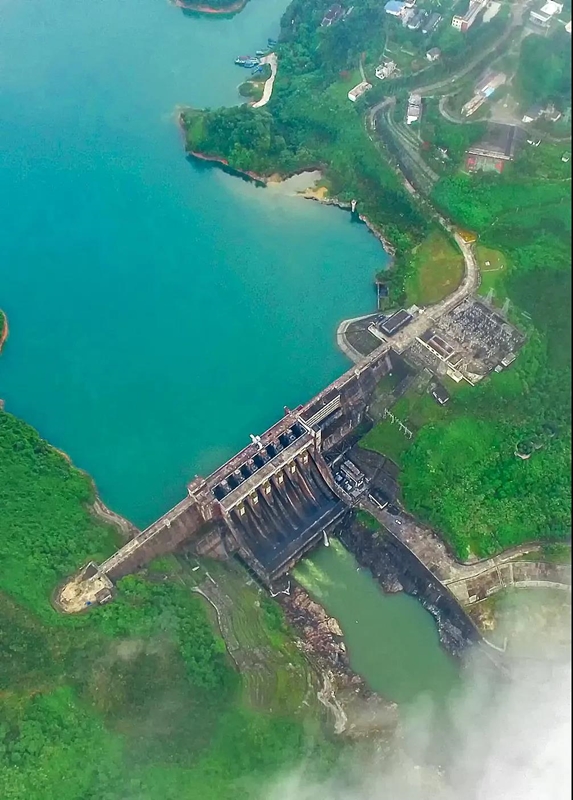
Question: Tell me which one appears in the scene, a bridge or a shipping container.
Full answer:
I can see a bridge in this picture.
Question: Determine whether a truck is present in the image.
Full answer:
No, the scene contains no truck.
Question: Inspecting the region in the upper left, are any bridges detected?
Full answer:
No, there's no bridge to be seen in the upper left.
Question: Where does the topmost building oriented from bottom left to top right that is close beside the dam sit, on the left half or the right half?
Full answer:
The topmost building oriented from bottom left to top right that is close beside the dam is on the right side of the image.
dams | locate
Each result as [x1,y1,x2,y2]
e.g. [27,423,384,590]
[96,342,395,601]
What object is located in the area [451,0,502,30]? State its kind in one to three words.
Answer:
building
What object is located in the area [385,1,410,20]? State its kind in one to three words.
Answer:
house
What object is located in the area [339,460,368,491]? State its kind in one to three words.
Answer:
building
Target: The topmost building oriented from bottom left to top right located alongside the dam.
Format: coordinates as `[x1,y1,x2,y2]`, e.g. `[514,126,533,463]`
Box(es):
[379,309,412,339]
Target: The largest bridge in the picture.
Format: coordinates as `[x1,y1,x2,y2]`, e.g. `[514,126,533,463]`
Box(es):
[213,423,315,508]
